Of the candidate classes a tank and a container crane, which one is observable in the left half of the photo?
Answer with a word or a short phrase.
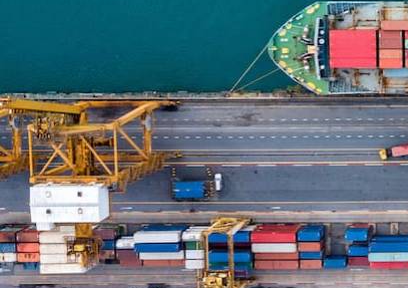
container crane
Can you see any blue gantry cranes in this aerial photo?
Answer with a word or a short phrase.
No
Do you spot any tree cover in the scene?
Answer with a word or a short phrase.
No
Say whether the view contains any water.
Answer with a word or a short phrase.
Yes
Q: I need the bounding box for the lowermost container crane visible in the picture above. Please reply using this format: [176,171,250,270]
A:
[200,218,252,288]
